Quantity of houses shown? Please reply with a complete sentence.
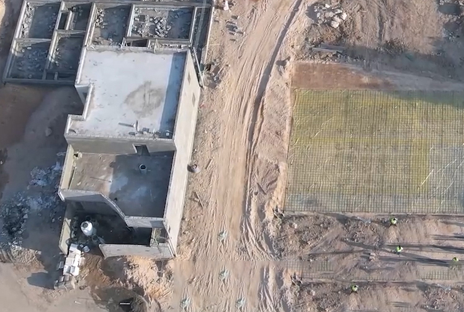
Altogether the scene contains 1 house.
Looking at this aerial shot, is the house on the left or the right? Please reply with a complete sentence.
It is on the left.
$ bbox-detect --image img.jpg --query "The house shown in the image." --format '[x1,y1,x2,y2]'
[58,45,204,257]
